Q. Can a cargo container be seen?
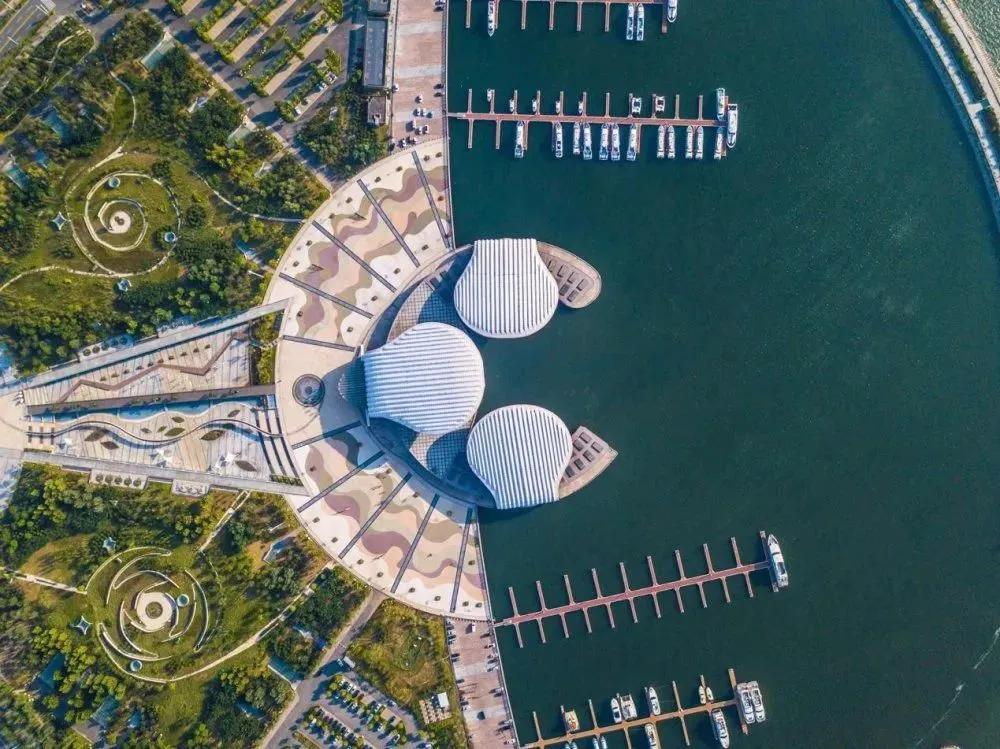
No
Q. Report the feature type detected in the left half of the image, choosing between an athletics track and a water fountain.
water fountain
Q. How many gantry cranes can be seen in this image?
0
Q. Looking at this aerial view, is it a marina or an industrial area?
marina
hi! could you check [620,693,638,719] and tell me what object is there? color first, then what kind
white boat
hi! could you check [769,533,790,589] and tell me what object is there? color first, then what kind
white boat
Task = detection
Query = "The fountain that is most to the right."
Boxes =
[293,373,325,405]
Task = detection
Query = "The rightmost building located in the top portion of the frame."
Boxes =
[454,238,559,338]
